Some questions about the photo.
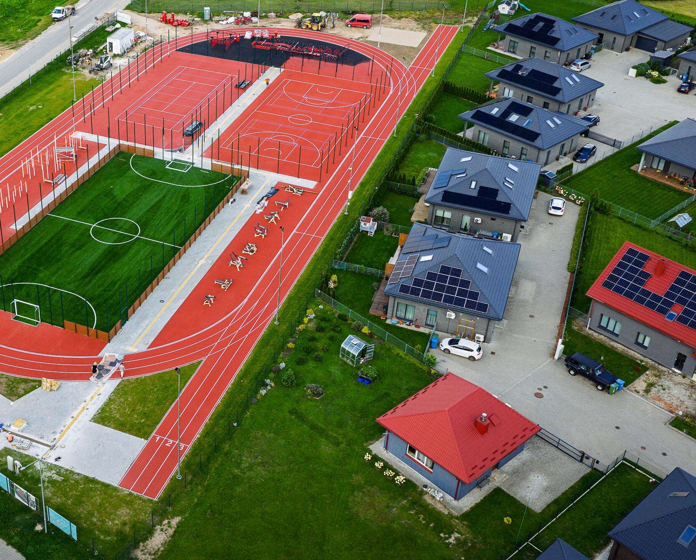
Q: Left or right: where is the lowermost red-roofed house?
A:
right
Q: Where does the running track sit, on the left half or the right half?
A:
left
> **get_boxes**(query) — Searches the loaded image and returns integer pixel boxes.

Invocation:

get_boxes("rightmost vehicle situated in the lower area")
[563,352,615,390]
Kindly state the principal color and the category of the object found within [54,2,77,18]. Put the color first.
white vehicle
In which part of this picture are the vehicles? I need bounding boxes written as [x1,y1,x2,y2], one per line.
[568,58,593,72]
[563,352,615,390]
[574,141,600,162]
[344,14,374,30]
[289,11,333,31]
[54,2,77,18]
[84,51,112,71]
[440,339,484,363]
[549,196,567,215]
[583,112,606,127]
[678,81,696,94]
